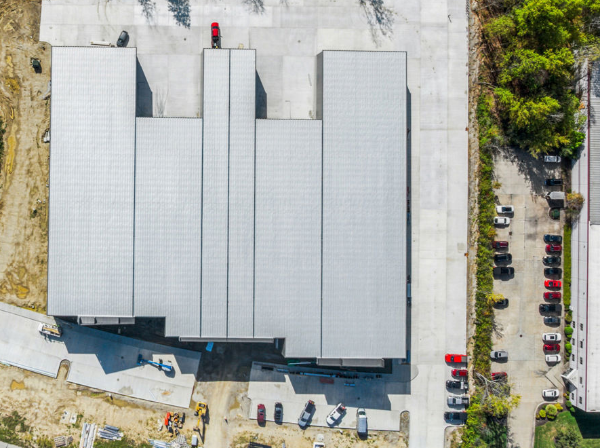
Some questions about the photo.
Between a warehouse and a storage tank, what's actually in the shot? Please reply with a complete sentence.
Of the two, only a warehouse appears.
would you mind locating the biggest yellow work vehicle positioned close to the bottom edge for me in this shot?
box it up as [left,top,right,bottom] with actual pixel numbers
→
[193,403,207,437]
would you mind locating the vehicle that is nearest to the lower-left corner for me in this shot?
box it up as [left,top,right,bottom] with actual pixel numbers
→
[39,324,61,337]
